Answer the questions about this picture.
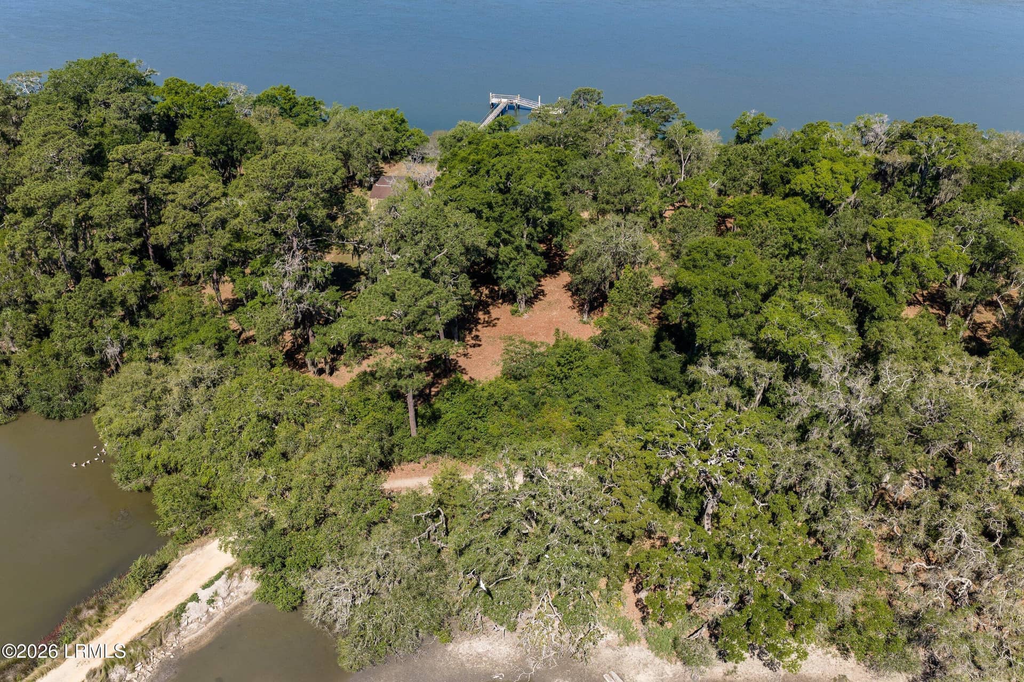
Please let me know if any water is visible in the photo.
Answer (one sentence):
Yes, water can be seen from above here.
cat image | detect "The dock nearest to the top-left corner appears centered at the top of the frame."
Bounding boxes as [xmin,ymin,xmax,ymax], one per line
[473,91,520,130]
